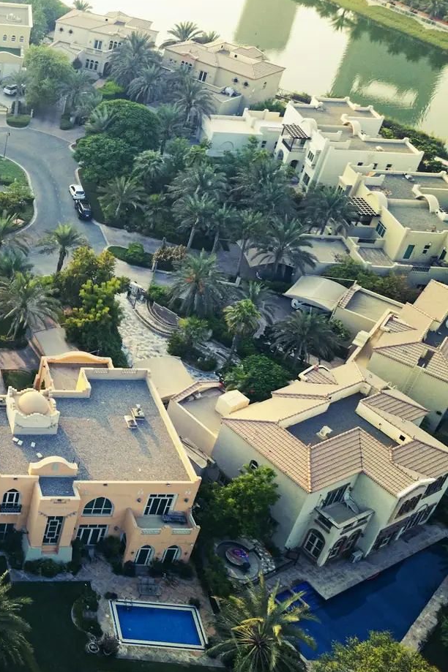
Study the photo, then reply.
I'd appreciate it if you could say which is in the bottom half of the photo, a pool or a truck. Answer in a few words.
pool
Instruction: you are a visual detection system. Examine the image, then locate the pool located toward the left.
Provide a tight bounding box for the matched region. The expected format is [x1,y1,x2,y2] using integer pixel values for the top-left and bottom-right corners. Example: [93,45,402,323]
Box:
[103,590,217,655]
